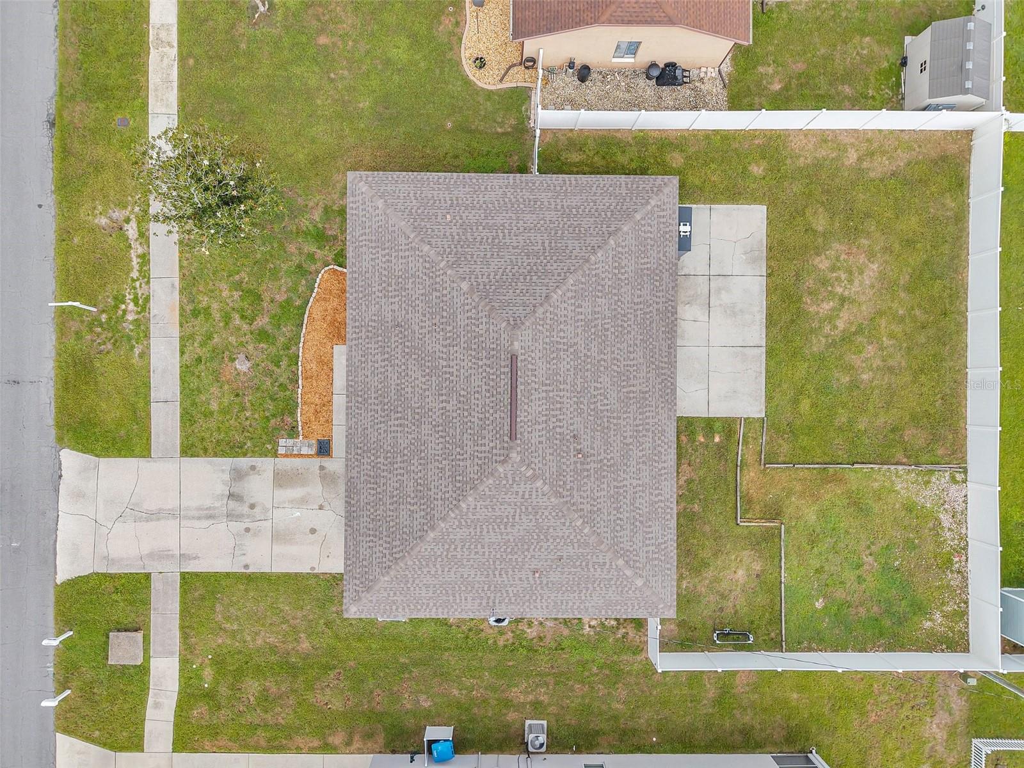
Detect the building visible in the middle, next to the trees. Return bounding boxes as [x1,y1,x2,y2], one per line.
[344,172,678,618]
